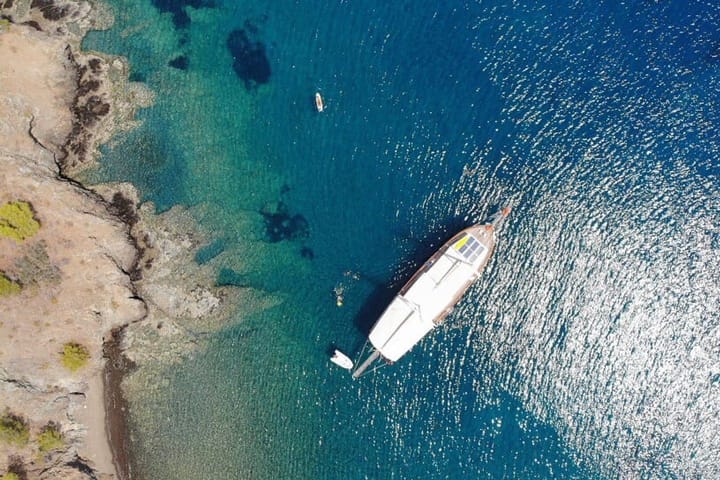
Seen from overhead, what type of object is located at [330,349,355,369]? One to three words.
boat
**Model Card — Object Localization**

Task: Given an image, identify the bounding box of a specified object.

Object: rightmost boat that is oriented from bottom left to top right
[352,207,513,372]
